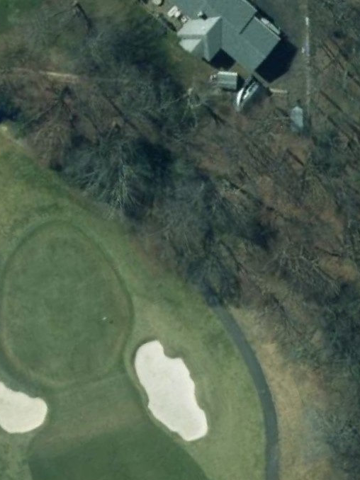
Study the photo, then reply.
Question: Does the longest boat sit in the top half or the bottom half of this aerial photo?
top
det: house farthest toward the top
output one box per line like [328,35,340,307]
[173,0,280,70]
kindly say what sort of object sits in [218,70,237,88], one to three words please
shed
